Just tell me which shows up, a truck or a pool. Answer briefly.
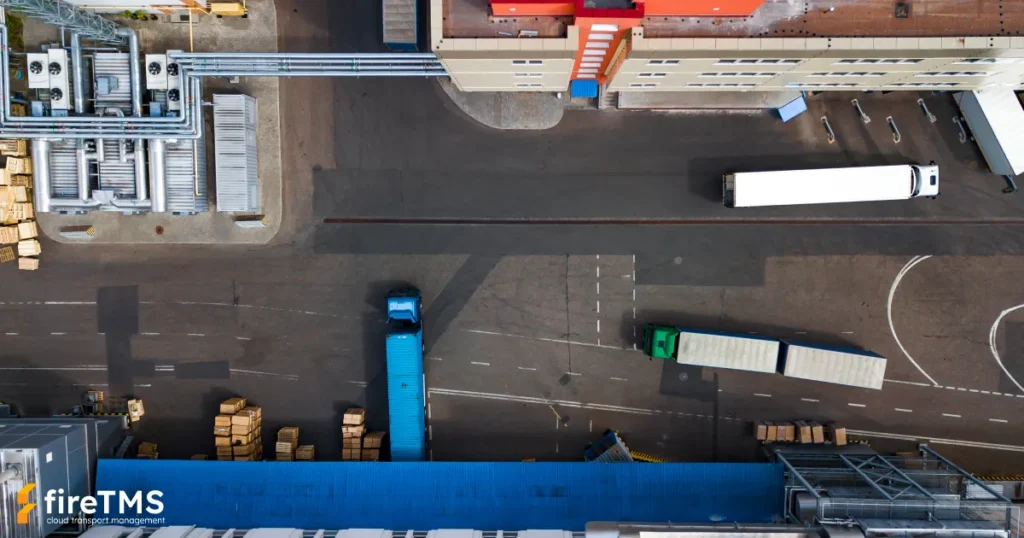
truck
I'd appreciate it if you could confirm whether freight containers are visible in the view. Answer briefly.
Yes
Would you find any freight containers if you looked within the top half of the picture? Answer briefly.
Yes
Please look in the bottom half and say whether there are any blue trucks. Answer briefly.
Yes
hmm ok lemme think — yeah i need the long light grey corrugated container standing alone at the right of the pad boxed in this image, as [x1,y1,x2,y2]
[213,94,258,212]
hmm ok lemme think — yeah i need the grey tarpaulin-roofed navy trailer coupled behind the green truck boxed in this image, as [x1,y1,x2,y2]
[775,336,886,390]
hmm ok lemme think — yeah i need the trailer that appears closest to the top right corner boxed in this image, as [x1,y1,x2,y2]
[957,83,1024,188]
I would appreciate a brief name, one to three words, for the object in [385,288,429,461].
truck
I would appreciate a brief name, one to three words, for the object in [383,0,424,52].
trailer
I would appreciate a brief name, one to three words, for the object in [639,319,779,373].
truck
